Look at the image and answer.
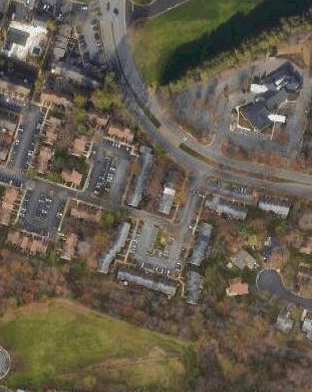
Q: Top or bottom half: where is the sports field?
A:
bottom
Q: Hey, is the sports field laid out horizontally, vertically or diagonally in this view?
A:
horizontally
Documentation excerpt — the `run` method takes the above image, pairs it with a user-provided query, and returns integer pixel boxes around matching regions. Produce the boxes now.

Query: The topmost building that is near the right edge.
[242,61,301,131]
